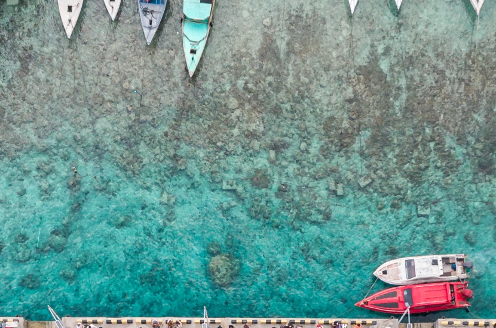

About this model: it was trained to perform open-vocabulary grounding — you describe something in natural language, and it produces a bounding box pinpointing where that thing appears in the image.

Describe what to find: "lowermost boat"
[354,281,474,314]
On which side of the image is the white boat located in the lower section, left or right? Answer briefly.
right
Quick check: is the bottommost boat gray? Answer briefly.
No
